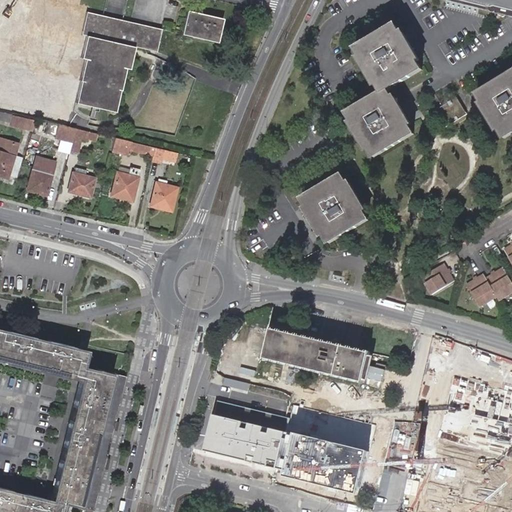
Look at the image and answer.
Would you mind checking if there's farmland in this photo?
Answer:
No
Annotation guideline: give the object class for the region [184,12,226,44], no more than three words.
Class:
house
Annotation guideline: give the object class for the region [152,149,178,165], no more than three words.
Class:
house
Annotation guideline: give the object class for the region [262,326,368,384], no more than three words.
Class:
building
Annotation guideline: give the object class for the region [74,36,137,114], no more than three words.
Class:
building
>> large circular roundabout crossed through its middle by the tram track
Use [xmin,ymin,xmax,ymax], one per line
[174,260,224,310]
